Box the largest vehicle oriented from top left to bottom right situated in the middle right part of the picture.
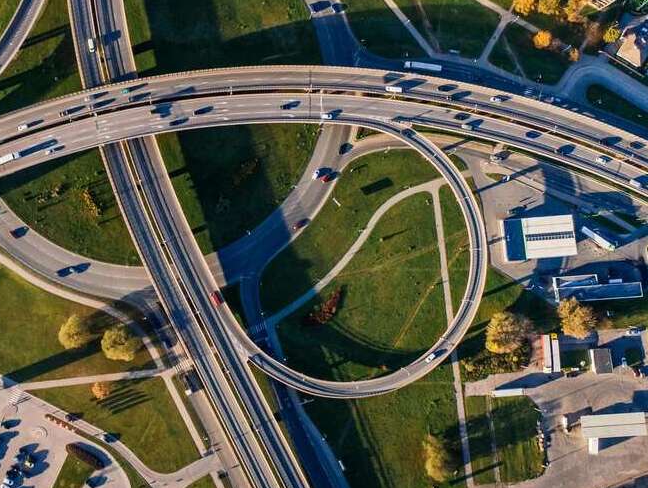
[583,224,618,249]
